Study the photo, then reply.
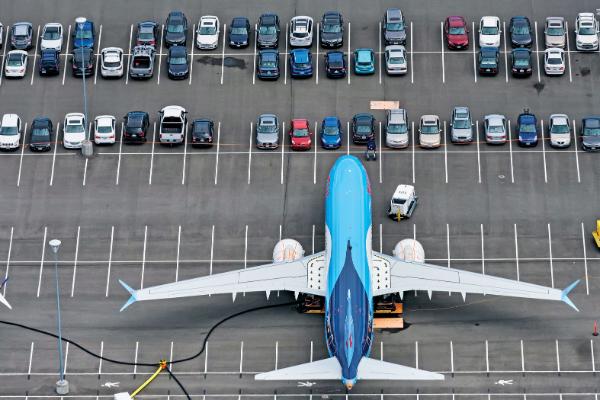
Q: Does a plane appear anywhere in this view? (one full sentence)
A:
Yes, a plane appears in the view.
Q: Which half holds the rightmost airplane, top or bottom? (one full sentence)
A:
Seen from above, the rightmost airplane lies in the bottom half of the view.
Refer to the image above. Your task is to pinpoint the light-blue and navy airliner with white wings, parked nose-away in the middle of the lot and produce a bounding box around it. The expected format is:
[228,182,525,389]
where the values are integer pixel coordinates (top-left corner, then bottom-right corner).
[119,155,579,392]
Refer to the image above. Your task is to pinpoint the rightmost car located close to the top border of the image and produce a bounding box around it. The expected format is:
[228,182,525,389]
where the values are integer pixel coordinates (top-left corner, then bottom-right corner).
[574,12,600,49]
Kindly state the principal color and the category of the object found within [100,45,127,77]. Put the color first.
white car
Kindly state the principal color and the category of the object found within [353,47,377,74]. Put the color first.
blue car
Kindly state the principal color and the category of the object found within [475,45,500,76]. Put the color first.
blue car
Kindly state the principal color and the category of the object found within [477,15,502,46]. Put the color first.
white car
